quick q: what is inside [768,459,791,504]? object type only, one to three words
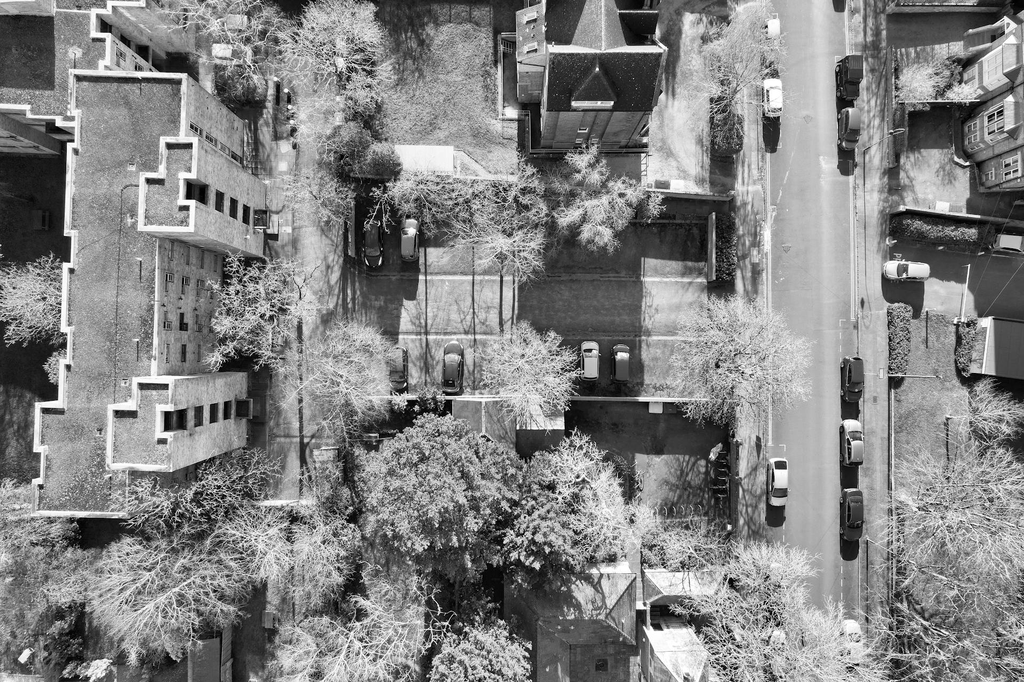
car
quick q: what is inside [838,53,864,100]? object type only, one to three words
truck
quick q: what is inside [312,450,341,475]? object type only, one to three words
shed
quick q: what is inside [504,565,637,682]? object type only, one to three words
house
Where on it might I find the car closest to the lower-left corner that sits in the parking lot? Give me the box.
[388,347,409,390]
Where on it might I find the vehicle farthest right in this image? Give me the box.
[987,231,1024,256]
